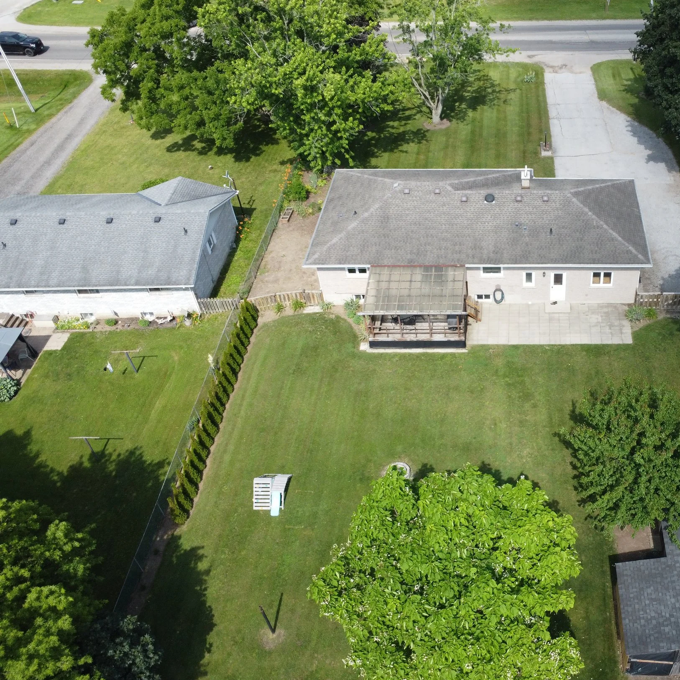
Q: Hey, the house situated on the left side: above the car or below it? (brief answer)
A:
below it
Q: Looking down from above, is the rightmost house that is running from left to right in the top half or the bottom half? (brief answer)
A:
top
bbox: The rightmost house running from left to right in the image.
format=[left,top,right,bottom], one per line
[302,164,653,304]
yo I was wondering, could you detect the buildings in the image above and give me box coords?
[618,514,680,672]
[302,164,653,304]
[0,174,244,313]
